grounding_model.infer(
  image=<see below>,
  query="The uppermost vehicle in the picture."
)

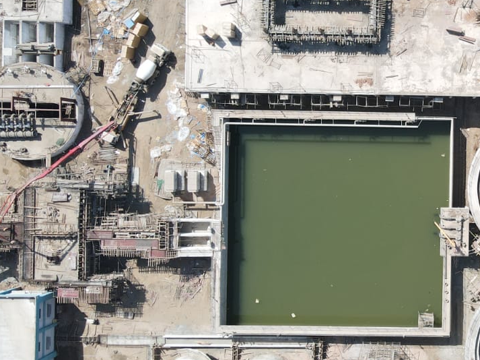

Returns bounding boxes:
[127,38,167,88]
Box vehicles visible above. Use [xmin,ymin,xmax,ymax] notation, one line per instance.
[0,84,162,242]
[127,38,167,88]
